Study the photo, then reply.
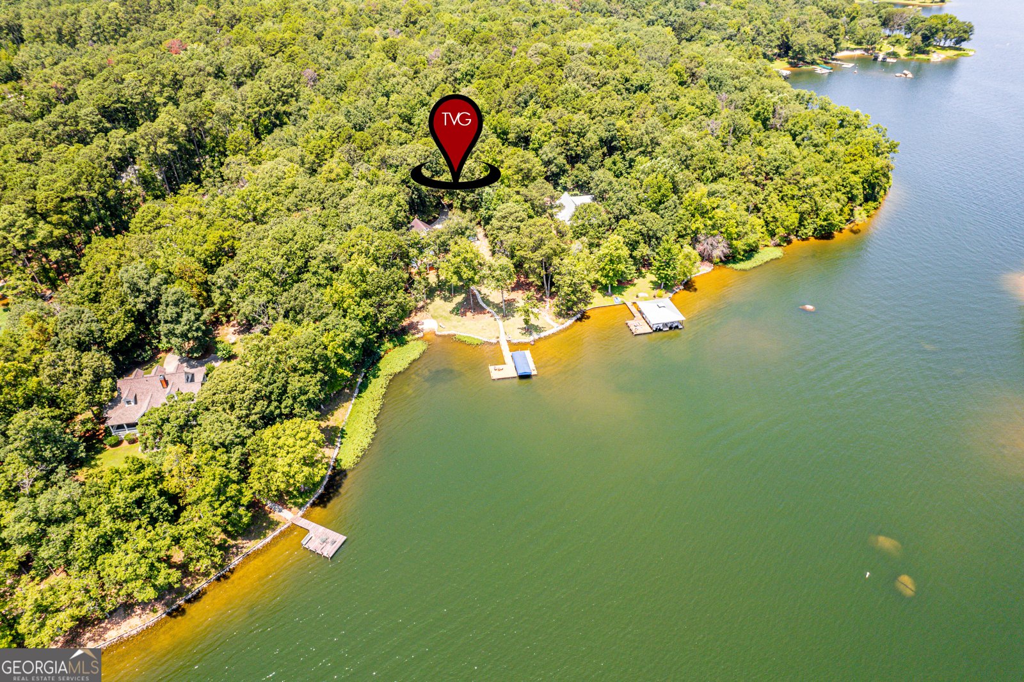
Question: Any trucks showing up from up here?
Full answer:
No, no truck is visible in the scene.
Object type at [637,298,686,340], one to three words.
building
